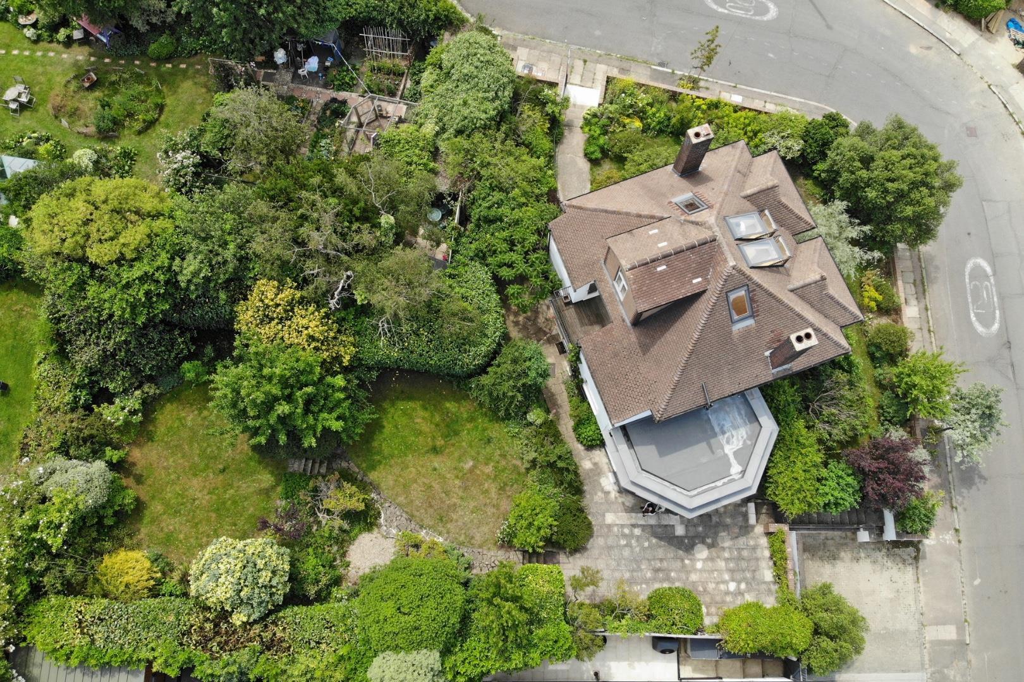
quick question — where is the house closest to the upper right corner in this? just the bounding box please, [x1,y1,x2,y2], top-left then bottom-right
[545,120,866,519]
